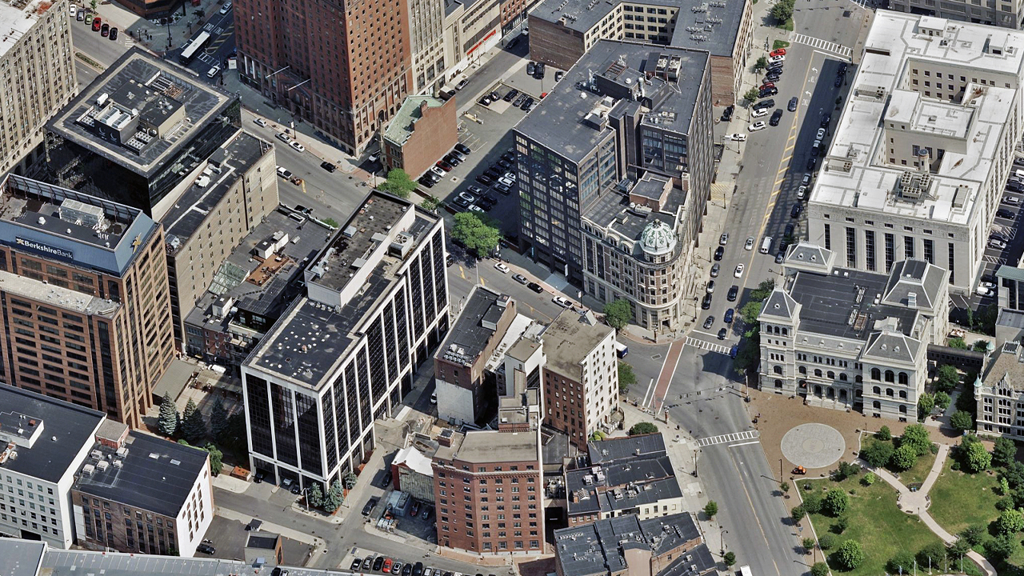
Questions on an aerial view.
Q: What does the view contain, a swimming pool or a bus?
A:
bus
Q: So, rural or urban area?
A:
urban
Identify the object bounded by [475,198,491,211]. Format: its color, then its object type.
black vehicle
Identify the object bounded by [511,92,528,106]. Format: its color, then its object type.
gray vehicle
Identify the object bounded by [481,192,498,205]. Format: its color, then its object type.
black vehicle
